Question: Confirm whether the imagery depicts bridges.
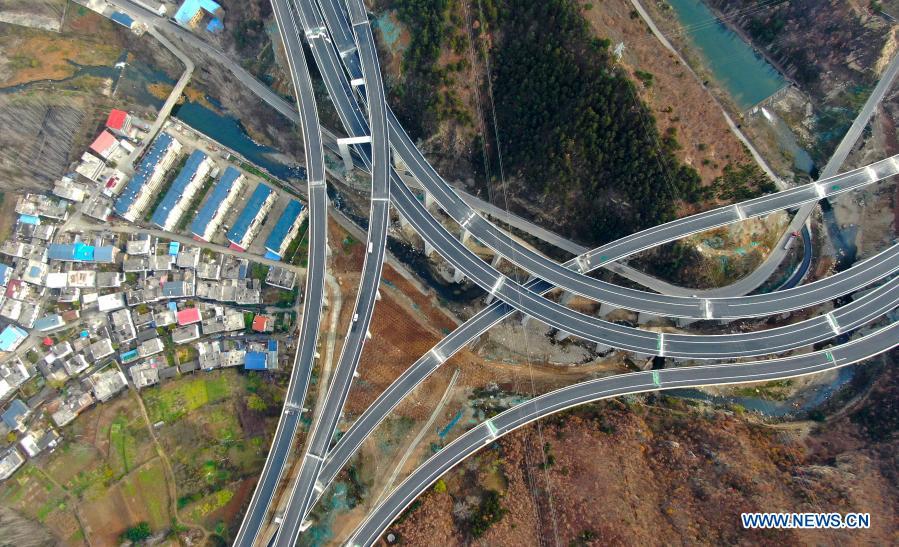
Yes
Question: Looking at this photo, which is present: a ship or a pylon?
pylon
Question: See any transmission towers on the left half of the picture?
No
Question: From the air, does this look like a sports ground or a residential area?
residential area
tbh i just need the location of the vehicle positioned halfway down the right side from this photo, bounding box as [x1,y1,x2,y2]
[786,232,799,249]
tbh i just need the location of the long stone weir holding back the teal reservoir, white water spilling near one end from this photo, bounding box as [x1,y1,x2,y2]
[744,82,794,122]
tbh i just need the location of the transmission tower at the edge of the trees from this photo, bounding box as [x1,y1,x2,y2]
[607,39,636,77]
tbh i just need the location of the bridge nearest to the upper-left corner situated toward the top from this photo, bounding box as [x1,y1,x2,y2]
[145,18,194,137]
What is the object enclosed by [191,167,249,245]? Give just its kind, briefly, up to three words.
building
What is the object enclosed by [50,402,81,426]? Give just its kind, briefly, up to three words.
house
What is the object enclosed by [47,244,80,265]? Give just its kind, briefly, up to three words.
house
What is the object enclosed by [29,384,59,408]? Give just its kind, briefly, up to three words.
shed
